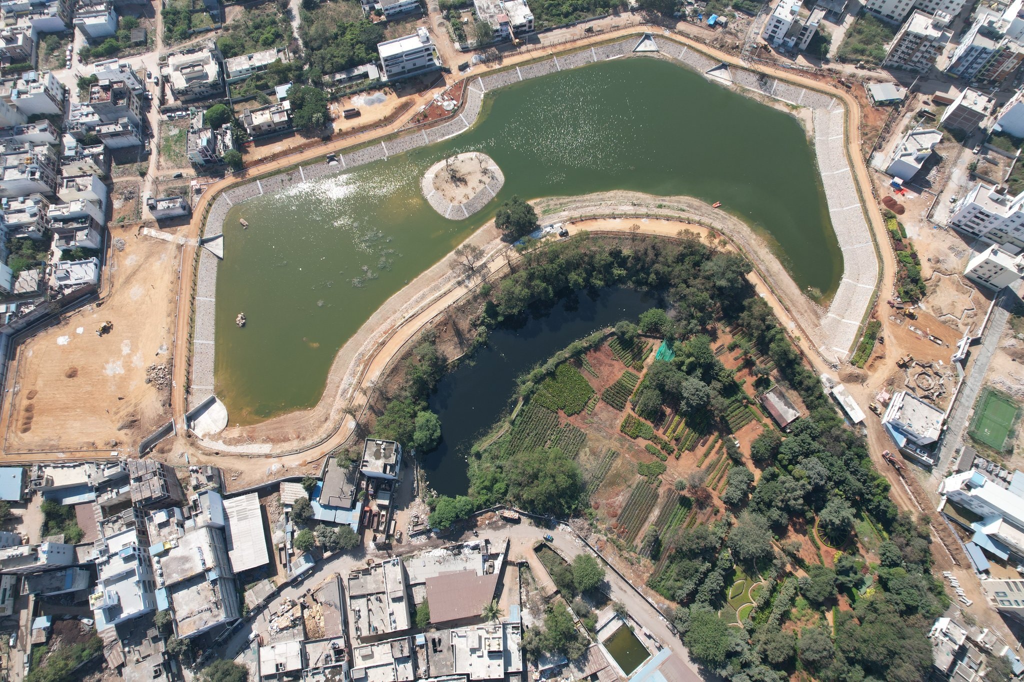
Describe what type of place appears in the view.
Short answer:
residential area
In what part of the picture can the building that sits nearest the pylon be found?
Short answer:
top right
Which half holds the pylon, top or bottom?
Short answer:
top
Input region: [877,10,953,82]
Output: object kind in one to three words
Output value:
building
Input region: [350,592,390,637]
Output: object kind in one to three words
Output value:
house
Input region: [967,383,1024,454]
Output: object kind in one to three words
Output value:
sports court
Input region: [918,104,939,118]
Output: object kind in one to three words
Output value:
vehicle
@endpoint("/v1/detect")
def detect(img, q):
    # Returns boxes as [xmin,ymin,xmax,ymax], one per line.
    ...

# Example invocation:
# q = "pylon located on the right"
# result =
[735,0,775,62]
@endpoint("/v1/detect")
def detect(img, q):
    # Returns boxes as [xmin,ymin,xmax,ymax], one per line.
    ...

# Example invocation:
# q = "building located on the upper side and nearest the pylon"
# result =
[761,0,802,50]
